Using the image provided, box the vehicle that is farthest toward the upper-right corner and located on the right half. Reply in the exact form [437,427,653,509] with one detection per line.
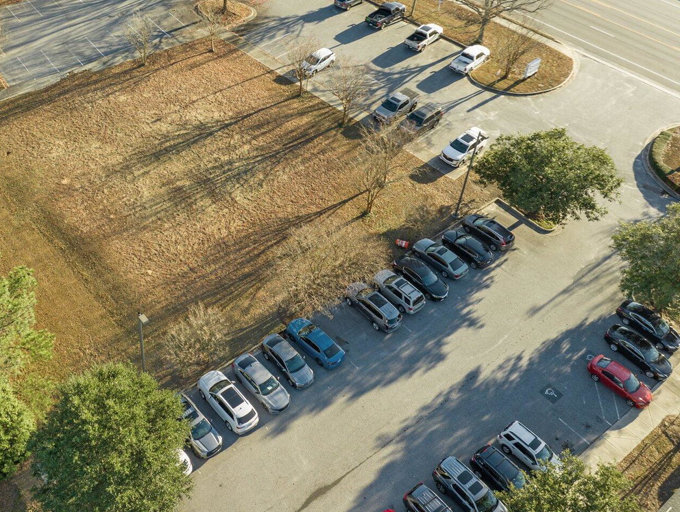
[446,45,491,75]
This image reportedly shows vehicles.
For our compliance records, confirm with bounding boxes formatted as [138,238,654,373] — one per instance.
[440,229,497,272]
[443,130,487,166]
[602,323,676,382]
[332,0,365,10]
[258,331,319,392]
[400,101,443,135]
[344,284,404,336]
[402,24,446,51]
[412,238,471,283]
[582,350,657,413]
[401,483,453,512]
[286,317,346,374]
[493,411,567,478]
[371,88,422,125]
[391,253,450,303]
[364,2,406,28]
[434,456,506,512]
[299,49,336,76]
[459,214,517,256]
[199,373,260,436]
[462,433,530,502]
[171,394,231,463]
[612,300,680,356]
[232,351,292,415]
[446,45,491,75]
[370,268,430,317]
